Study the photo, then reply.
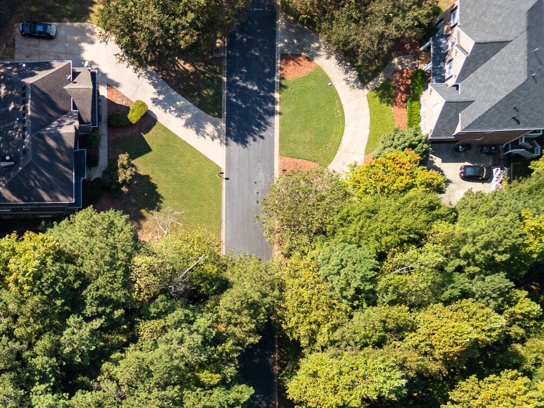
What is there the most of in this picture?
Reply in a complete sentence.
For the most part, this view shows trees.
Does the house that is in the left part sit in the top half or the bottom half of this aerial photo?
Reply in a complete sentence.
It is in the top half that the house that is in the left part appears.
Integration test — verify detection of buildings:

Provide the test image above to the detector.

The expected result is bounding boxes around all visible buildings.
[415,0,544,146]
[0,60,97,215]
